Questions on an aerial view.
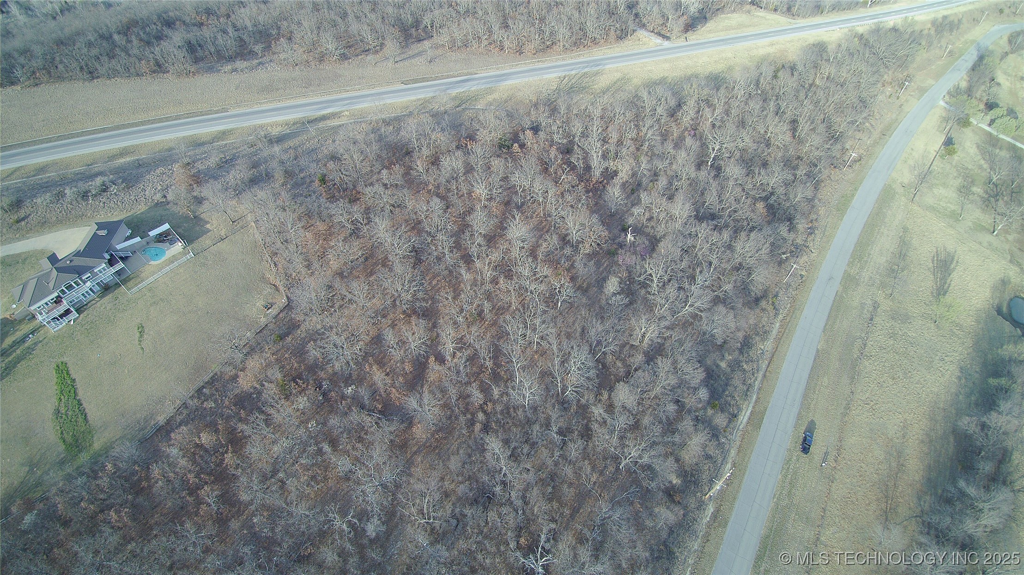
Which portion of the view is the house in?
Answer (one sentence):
The house appears toward the left of the photo.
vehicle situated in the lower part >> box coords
[797,431,814,458]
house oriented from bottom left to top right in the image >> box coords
[1,221,136,333]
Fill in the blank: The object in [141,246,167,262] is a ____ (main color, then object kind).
blue swimming pool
